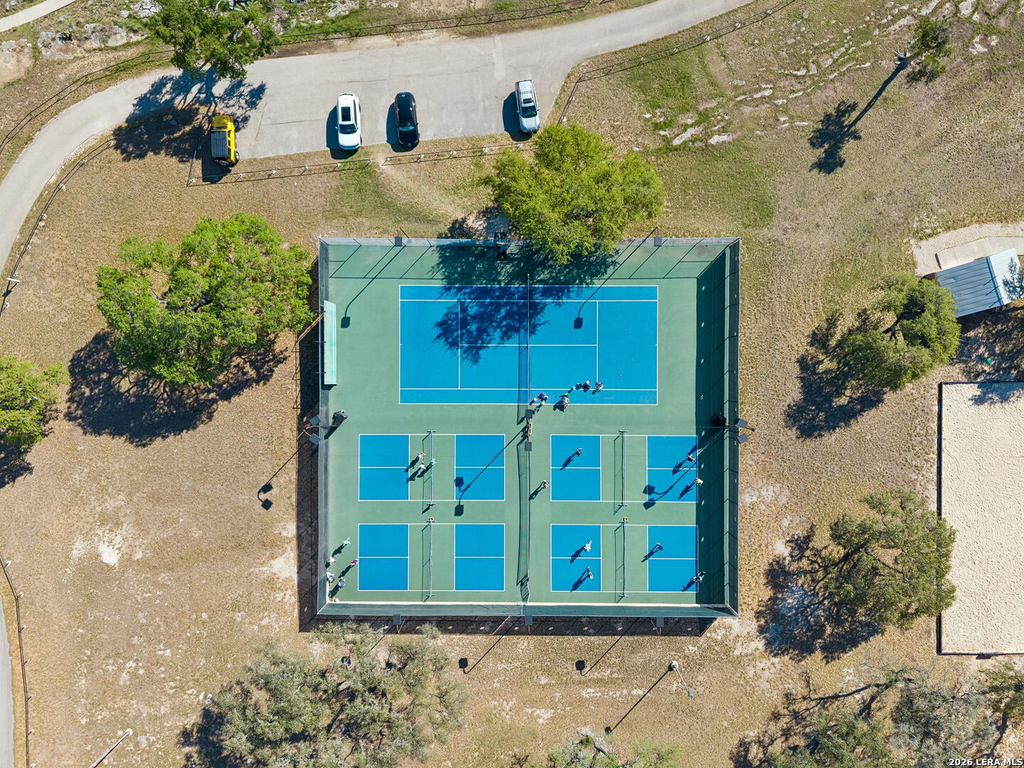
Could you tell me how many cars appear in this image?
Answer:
4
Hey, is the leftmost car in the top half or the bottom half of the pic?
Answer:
top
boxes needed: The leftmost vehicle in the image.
[211,120,240,169]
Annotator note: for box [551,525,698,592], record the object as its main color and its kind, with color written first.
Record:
blue sports court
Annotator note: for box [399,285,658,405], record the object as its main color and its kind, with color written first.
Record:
blue tennis court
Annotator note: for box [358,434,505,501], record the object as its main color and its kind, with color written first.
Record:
blue sports court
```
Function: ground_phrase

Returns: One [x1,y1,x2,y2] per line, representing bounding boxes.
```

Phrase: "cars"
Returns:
[338,94,363,149]
[397,93,421,147]
[211,120,240,169]
[516,82,542,137]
